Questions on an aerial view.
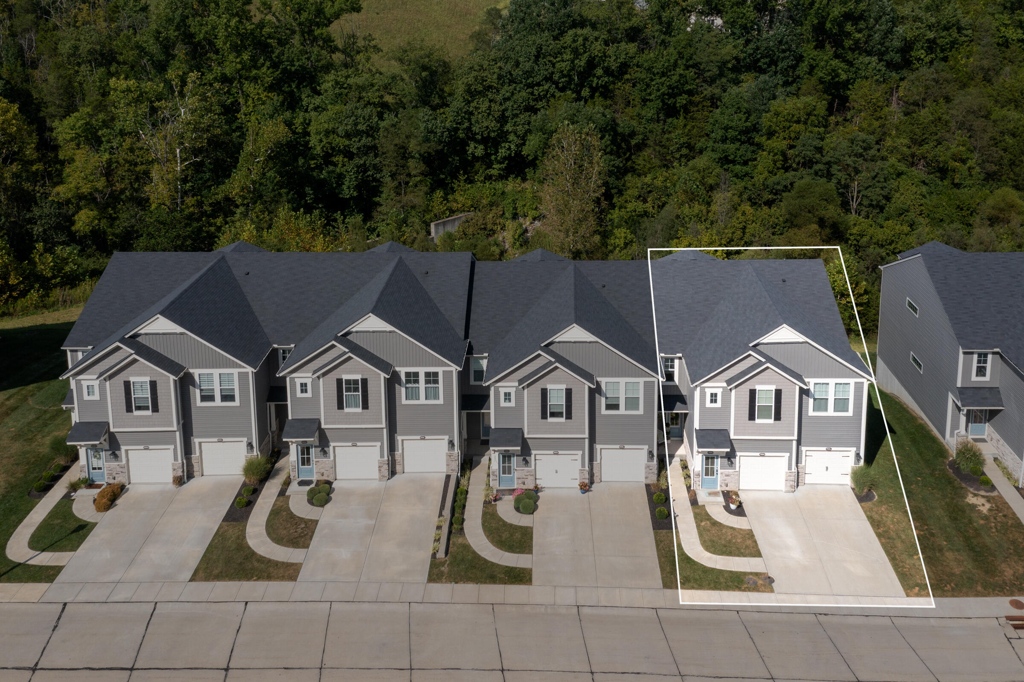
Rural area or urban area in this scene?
urban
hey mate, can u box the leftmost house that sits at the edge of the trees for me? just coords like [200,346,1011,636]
[61,241,294,501]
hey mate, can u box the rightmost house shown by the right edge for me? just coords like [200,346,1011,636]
[884,240,1024,495]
